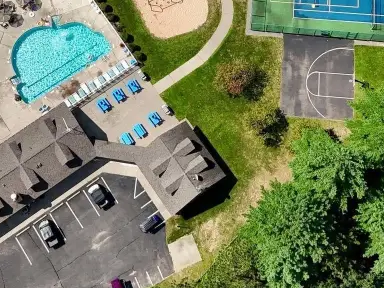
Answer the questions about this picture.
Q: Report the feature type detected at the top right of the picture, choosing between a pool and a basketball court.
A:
basketball court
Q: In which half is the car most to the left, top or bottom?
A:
bottom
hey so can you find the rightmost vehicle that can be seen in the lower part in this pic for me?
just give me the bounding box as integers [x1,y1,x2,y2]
[136,210,168,237]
